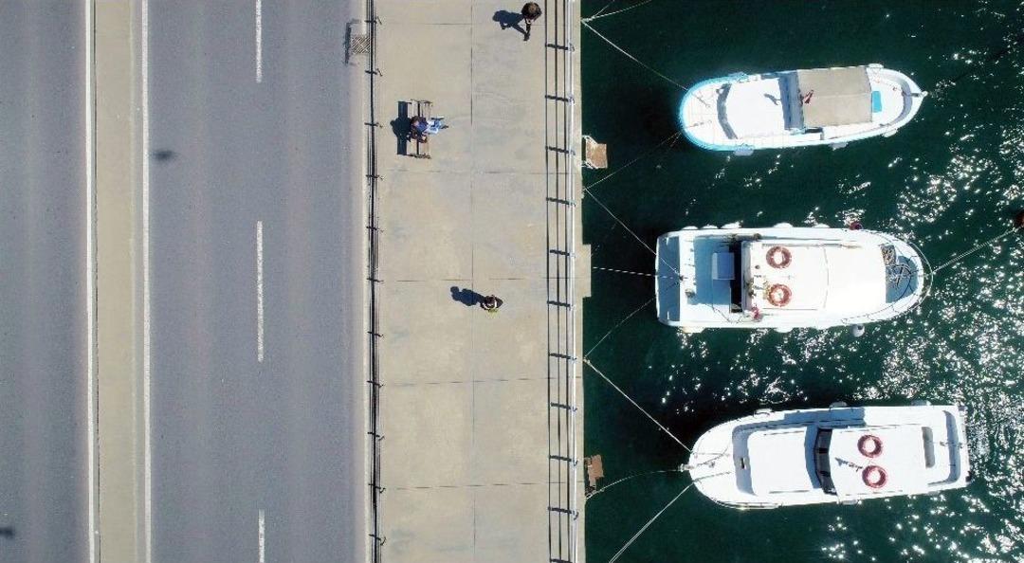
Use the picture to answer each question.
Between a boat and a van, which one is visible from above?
boat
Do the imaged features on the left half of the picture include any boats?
No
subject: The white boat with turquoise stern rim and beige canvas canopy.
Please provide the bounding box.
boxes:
[679,66,928,152]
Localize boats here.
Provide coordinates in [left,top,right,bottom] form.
[679,66,928,152]
[657,228,931,327]
[679,404,973,508]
